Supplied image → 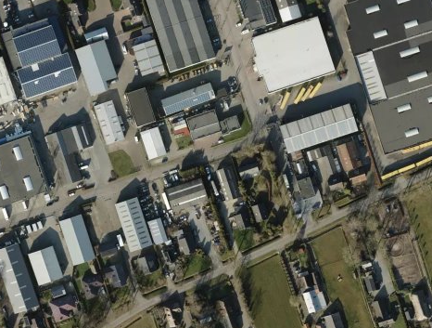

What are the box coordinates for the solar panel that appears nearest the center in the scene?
[166,94,205,115]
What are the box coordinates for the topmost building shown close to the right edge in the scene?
[344,0,432,56]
